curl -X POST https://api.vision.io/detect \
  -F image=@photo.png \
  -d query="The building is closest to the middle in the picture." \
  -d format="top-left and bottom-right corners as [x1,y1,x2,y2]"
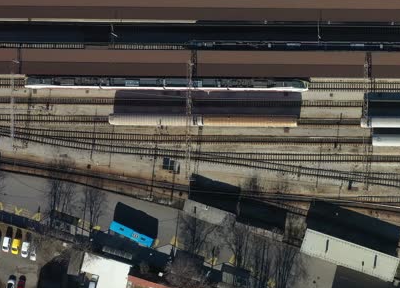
[182,199,230,226]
